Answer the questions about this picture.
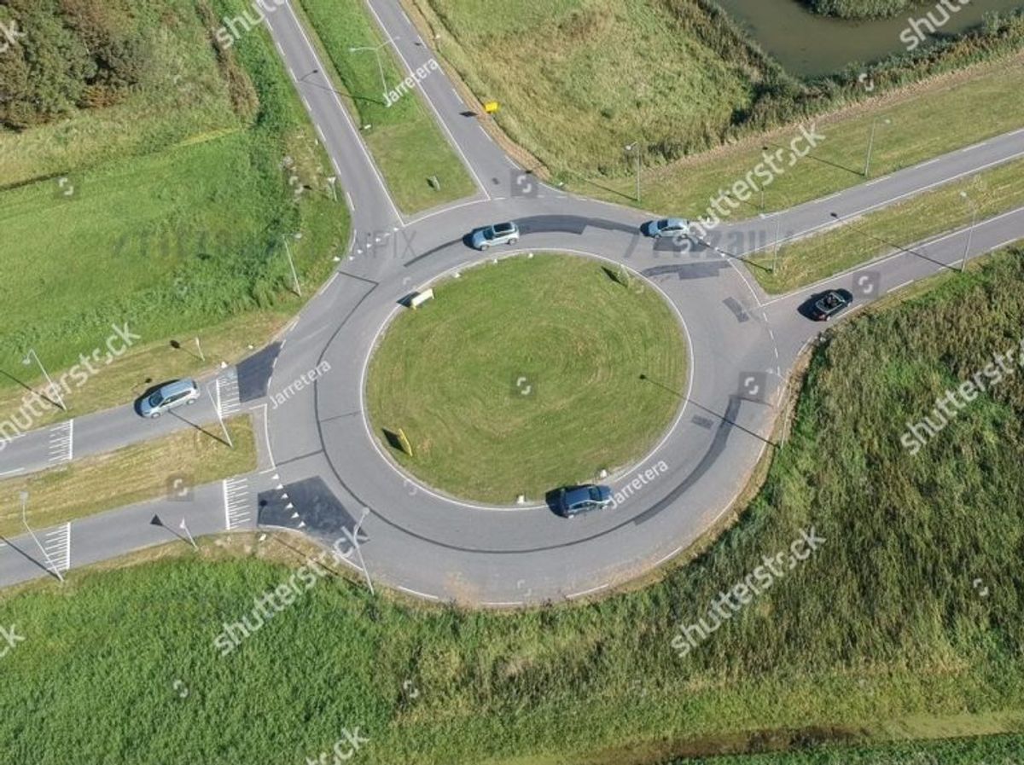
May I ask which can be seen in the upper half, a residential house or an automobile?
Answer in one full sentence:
The one visible in the upper half is an automobile.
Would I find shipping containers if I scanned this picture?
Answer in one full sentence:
No, no shipping container is visible in the view.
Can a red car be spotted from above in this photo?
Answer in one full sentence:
No, I find no red car anywhere in the image.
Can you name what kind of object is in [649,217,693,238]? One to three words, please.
car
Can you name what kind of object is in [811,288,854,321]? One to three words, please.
car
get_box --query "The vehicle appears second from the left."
[474,222,521,250]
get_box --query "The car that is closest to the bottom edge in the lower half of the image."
[555,483,614,519]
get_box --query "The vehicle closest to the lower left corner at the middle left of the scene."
[140,378,200,418]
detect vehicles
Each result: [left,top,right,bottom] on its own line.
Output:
[811,288,854,321]
[140,378,200,418]
[649,217,693,238]
[474,222,521,250]
[555,483,614,519]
